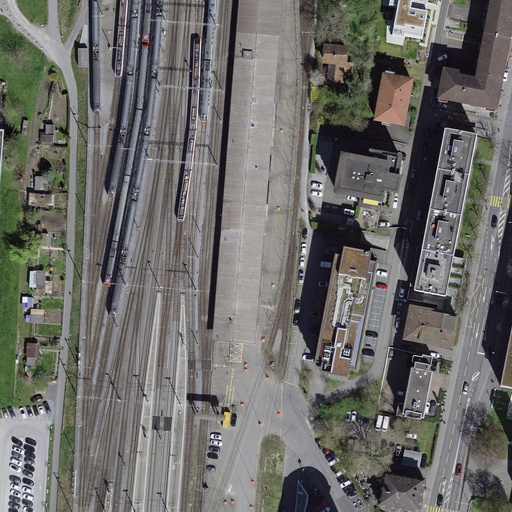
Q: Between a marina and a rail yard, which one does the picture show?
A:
rail yard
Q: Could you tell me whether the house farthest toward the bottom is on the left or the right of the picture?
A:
right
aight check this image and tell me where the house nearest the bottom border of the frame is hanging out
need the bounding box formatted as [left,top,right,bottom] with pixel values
[378,473,425,512]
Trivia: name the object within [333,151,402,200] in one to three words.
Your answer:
building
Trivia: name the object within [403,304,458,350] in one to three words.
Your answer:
house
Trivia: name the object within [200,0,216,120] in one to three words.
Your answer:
train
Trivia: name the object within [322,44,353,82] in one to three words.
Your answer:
house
